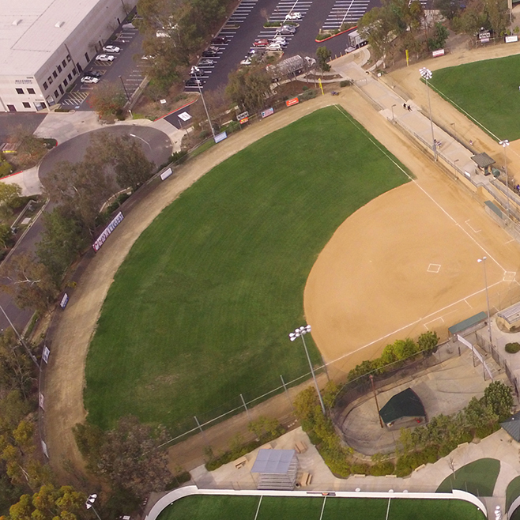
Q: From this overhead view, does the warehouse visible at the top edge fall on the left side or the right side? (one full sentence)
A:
It is on the left.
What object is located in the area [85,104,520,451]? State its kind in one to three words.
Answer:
baseball field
